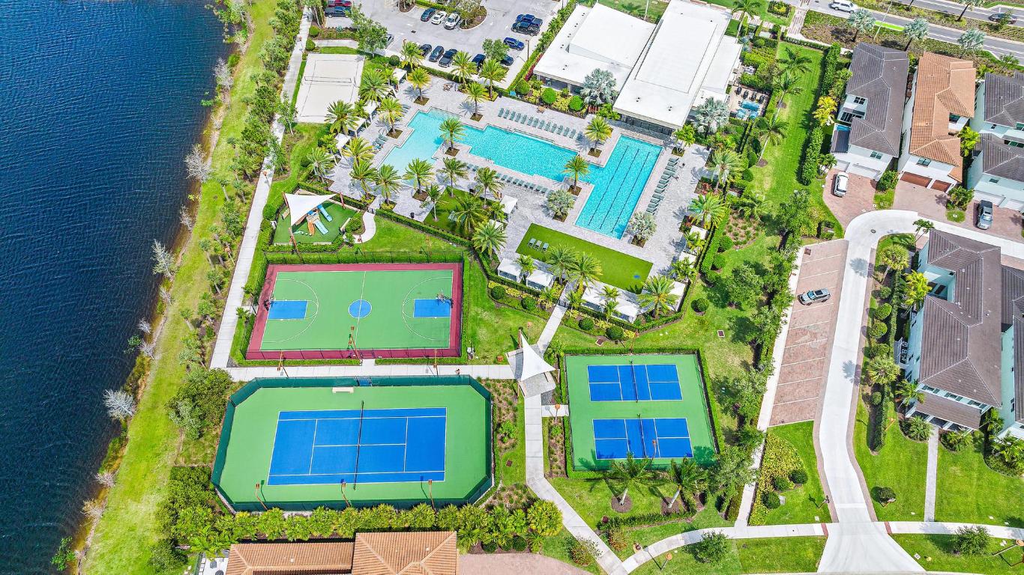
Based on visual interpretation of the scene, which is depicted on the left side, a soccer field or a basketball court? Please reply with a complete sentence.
Visible on the left side is a basketball court.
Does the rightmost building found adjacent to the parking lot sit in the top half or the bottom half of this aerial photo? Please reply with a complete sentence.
The top half of the photo is where the rightmost building found adjacent to the parking lot is.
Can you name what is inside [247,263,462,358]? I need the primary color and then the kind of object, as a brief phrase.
green basketball court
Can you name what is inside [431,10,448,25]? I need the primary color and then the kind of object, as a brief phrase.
white car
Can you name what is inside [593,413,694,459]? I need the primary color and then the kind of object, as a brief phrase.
blue sports court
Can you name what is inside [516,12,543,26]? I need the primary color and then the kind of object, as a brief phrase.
blue vehicle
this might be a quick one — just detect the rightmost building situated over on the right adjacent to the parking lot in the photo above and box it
[534,0,742,143]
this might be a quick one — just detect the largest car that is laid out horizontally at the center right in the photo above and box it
[798,287,831,305]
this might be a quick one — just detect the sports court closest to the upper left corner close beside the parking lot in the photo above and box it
[295,53,365,122]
